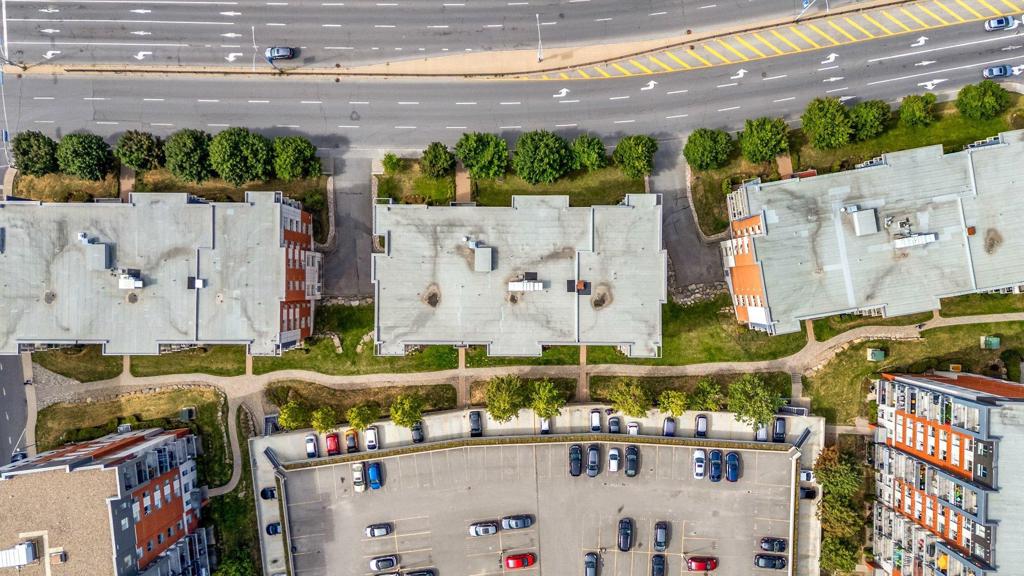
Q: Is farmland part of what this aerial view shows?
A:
No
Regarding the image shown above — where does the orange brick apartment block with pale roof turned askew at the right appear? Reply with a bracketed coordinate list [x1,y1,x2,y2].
[703,129,1024,336]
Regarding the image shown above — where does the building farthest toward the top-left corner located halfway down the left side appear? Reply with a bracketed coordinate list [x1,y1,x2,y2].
[0,192,326,356]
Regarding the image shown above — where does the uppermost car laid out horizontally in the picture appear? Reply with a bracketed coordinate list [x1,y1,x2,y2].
[984,15,1013,32]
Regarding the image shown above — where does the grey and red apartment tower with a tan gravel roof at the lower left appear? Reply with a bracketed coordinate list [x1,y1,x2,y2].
[0,427,213,576]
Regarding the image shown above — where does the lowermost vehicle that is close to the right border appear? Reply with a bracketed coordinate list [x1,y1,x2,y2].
[981,64,1011,80]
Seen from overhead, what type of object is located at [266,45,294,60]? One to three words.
car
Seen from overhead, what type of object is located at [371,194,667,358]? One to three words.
building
